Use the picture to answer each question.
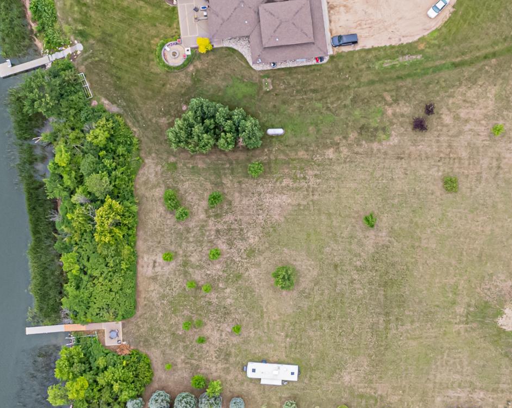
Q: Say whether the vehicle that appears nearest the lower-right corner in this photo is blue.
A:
No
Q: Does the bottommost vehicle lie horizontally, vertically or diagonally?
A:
horizontally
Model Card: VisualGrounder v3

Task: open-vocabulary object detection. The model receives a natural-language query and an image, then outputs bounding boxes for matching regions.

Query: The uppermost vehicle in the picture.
[427,0,450,19]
